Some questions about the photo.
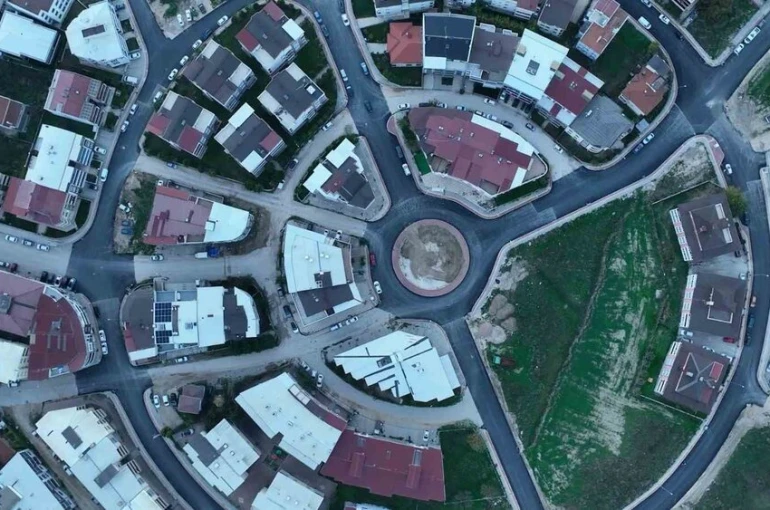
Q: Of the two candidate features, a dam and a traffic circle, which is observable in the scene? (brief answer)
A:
traffic circle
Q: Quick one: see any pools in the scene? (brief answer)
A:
No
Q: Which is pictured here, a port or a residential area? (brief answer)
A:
residential area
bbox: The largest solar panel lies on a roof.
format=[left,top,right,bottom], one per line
[156,303,172,322]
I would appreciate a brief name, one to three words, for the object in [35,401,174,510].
building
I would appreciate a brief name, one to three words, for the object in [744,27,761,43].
vehicle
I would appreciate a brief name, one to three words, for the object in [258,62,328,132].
house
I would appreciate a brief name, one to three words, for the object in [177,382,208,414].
shed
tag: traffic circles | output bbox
[392,219,469,296]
